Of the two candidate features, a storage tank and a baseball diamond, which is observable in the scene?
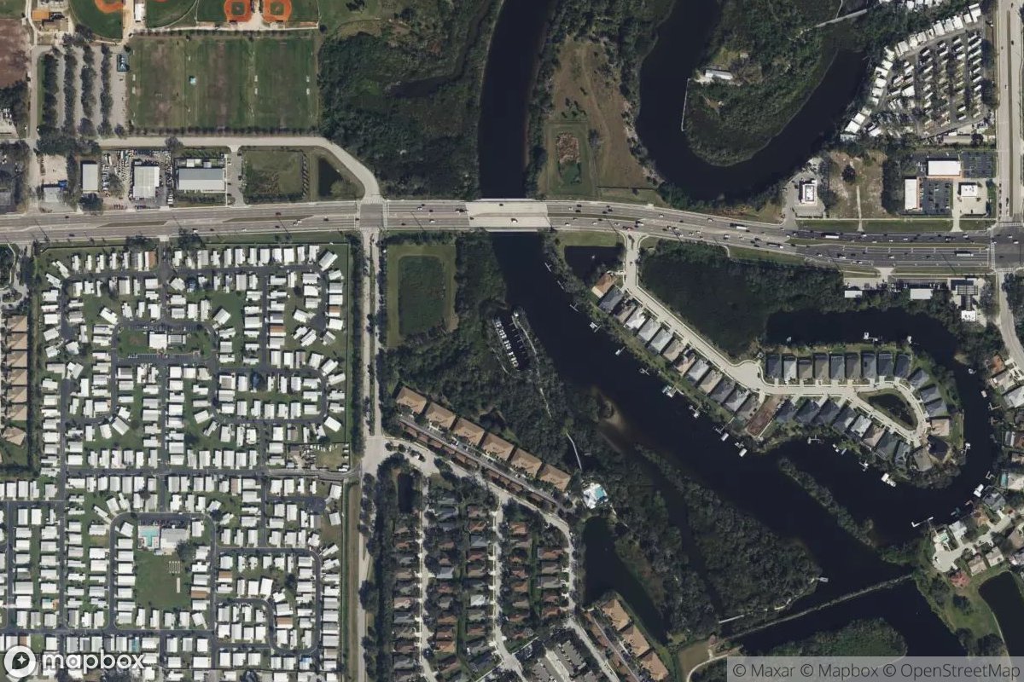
baseball diamond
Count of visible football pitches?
three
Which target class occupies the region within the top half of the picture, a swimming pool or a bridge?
bridge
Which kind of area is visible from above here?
residential area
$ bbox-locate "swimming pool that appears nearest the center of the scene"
[583,484,608,509]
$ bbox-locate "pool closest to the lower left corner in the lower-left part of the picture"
[138,526,160,549]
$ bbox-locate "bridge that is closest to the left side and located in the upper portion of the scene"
[466,198,551,232]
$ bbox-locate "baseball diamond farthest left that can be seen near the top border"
[71,0,123,39]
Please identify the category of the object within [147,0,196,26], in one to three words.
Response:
baseball field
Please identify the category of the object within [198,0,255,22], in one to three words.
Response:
baseball field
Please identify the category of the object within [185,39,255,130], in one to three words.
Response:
soccer field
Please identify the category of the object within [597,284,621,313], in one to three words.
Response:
house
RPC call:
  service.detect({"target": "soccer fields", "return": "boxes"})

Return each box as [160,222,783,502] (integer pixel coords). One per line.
[253,39,317,130]
[185,39,255,130]
[131,36,185,130]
